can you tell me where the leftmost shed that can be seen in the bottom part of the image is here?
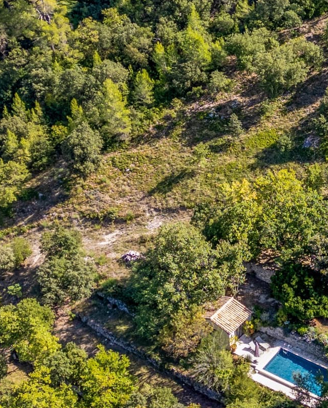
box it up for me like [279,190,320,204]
[197,298,253,352]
